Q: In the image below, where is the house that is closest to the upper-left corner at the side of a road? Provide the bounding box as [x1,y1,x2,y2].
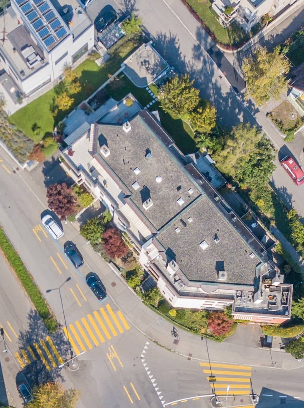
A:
[0,0,92,96]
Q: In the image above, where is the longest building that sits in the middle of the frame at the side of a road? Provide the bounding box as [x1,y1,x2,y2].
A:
[59,107,294,322]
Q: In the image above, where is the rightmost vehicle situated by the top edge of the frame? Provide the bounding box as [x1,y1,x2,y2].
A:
[92,6,119,31]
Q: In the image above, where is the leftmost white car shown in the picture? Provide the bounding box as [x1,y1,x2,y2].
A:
[40,210,65,243]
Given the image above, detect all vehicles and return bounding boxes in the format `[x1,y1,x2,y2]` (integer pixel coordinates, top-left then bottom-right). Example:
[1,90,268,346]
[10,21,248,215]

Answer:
[277,155,304,187]
[92,6,119,31]
[40,210,65,243]
[62,239,84,269]
[84,270,109,303]
[16,379,37,406]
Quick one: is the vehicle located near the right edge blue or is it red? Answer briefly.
red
